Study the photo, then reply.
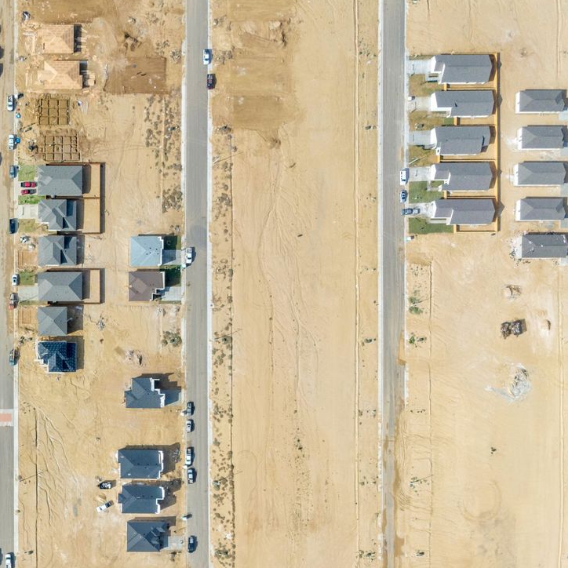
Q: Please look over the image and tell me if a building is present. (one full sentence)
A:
Yes, this view includes a building.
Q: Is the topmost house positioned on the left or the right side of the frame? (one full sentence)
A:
The topmost house appears in the left half of the scene.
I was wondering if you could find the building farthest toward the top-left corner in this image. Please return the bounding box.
[39,24,75,54]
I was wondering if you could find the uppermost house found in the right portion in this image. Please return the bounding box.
[429,54,496,84]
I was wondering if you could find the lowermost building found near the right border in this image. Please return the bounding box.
[517,233,568,258]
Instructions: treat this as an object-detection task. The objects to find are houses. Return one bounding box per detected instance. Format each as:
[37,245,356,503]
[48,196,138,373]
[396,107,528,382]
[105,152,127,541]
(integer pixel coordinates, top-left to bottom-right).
[517,125,568,149]
[126,521,168,551]
[38,60,83,90]
[130,236,164,267]
[37,306,67,335]
[430,126,493,154]
[430,199,498,224]
[429,54,496,84]
[38,166,83,195]
[514,161,568,185]
[517,233,568,258]
[516,198,568,220]
[431,162,496,190]
[39,24,75,54]
[38,271,83,301]
[33,340,77,374]
[118,484,164,514]
[38,236,77,264]
[125,376,164,407]
[516,90,568,112]
[430,90,498,117]
[118,448,163,479]
[38,199,77,231]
